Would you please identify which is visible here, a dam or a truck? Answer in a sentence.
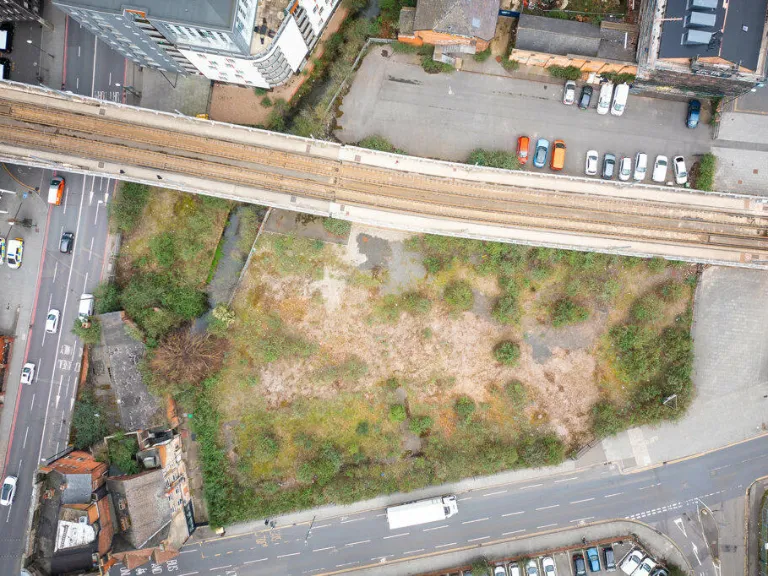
The image shows a truck.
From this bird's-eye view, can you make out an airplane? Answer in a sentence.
No, I can't see a single airplane in this photo.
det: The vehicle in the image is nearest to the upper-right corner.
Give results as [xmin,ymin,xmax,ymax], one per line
[684,98,702,129]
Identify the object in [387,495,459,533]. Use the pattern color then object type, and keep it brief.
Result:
white truck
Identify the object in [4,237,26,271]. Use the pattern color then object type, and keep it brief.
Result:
white vehicle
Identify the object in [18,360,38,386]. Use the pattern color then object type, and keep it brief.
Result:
white car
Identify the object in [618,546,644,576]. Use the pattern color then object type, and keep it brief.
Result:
white car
